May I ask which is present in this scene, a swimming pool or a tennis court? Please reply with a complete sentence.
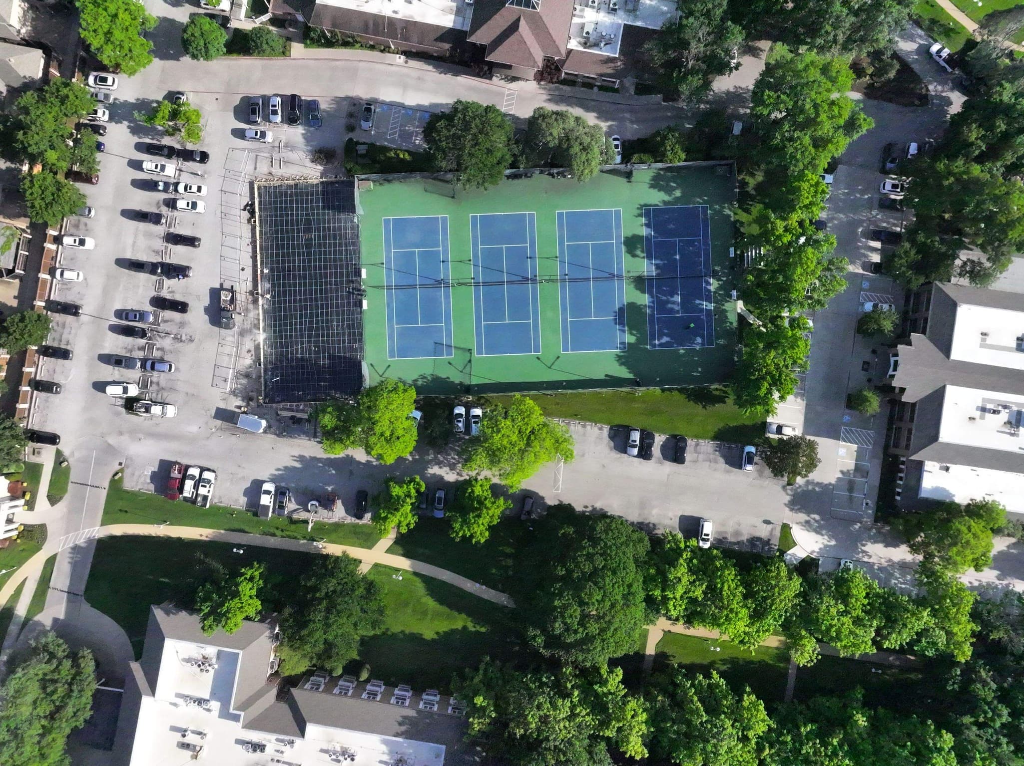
I can see a tennis court in this picture.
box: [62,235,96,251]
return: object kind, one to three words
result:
car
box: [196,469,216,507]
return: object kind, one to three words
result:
vehicle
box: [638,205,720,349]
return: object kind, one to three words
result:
tennis court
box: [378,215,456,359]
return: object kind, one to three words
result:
tennis court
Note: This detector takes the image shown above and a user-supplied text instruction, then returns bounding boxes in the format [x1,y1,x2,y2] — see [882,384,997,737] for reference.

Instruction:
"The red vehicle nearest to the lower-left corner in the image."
[167,462,186,501]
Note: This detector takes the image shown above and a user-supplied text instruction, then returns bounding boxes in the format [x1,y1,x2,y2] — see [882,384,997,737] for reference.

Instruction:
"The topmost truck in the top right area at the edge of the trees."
[926,39,955,74]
